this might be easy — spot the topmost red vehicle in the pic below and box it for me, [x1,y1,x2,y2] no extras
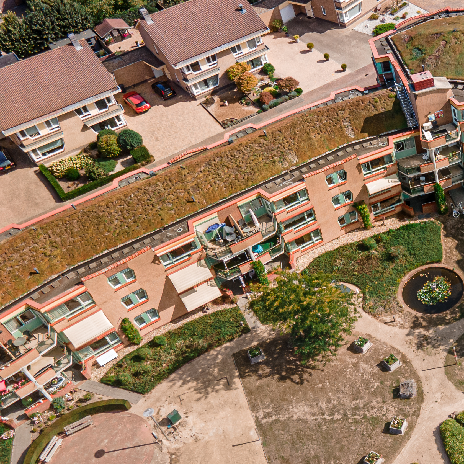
[121,90,148,110]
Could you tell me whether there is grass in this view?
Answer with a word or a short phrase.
Yes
